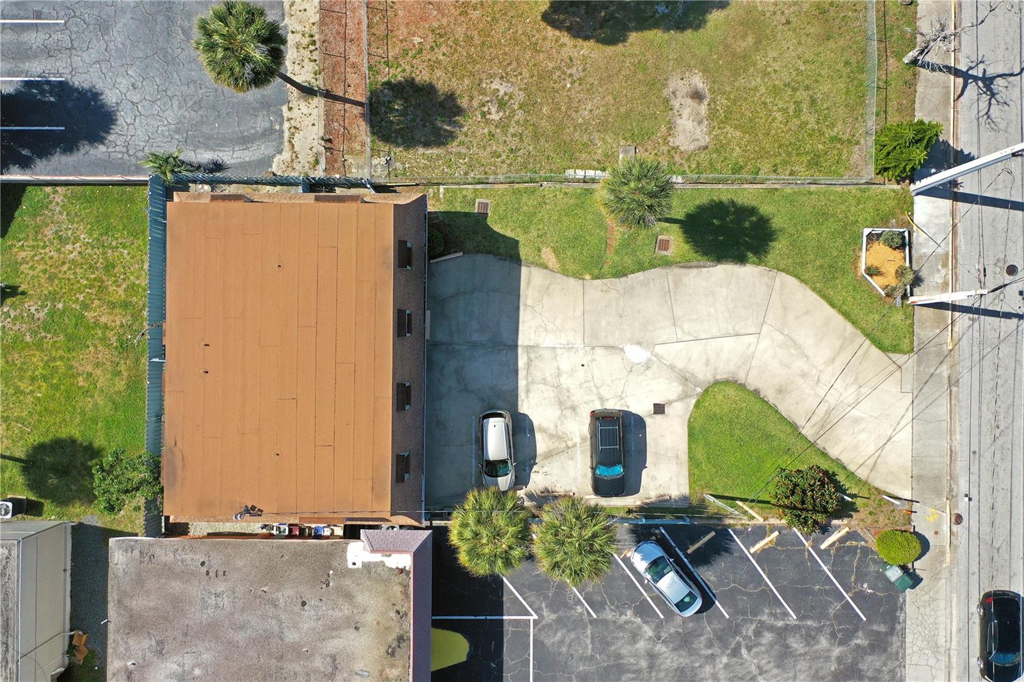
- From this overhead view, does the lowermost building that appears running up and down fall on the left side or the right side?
left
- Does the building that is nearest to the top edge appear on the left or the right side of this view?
left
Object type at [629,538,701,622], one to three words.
car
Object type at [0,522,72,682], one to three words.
building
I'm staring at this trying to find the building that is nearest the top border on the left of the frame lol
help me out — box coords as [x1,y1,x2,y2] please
[161,192,429,526]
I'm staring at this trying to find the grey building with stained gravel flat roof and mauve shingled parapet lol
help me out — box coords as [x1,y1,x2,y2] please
[108,520,432,682]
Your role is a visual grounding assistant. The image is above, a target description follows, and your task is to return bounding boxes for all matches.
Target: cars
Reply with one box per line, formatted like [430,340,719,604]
[629,538,701,622]
[586,406,630,496]
[477,410,517,489]
[977,592,1024,680]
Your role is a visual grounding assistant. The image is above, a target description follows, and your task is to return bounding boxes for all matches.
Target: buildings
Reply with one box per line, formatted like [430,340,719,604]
[0,522,72,682]
[108,520,432,682]
[161,192,429,526]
